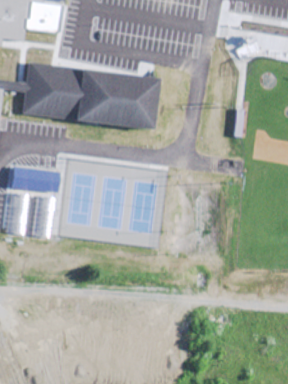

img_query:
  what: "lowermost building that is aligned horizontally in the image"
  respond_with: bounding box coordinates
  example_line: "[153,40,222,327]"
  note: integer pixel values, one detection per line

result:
[12,168,60,192]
